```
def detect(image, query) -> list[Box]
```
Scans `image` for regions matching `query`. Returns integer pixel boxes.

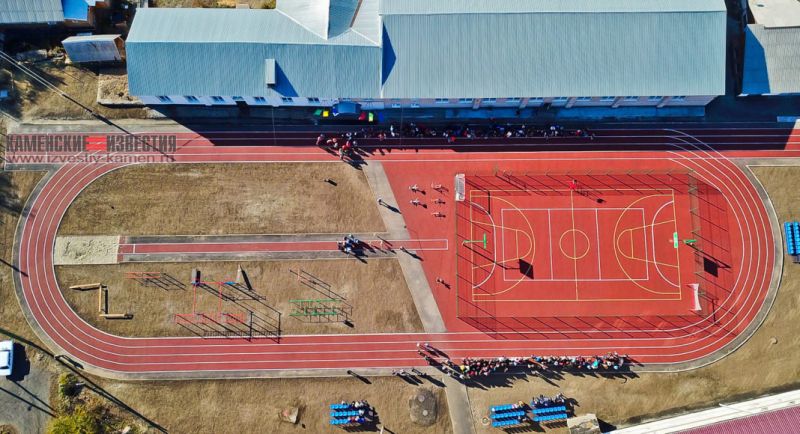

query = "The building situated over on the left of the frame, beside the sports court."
[125,0,385,125]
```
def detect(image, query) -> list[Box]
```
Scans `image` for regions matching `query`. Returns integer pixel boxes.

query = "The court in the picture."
[455,174,699,317]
